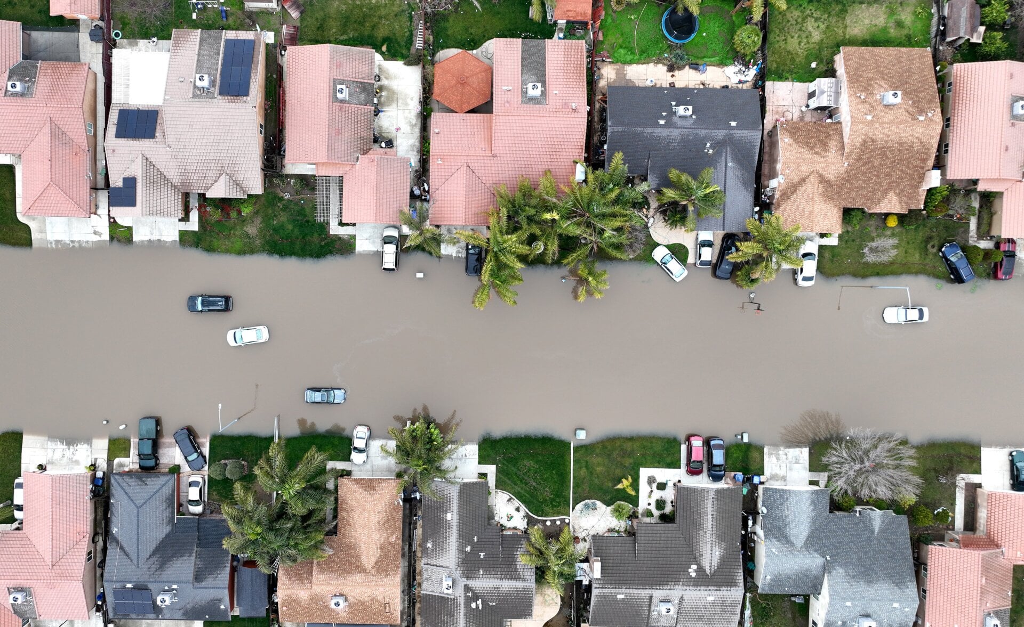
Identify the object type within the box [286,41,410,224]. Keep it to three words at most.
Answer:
house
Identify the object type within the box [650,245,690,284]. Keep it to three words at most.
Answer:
car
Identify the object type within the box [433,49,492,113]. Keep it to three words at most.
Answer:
gazebo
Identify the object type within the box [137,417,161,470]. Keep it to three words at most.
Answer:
truck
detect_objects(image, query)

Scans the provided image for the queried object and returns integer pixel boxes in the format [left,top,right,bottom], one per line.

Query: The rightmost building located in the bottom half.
[918,486,1024,627]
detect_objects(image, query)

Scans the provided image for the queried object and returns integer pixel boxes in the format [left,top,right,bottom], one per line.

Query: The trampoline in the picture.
[662,2,701,44]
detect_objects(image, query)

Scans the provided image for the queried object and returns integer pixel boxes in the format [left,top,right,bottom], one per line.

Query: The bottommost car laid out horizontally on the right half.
[880,305,928,326]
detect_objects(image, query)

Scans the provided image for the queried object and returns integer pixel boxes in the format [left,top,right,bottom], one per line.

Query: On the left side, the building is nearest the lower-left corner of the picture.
[0,469,97,627]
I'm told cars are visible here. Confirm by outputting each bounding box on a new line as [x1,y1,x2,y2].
[991,237,1016,282]
[188,293,235,314]
[380,227,401,272]
[185,472,207,516]
[12,475,23,520]
[1007,449,1024,489]
[707,436,728,481]
[695,231,715,270]
[940,241,977,286]
[227,325,272,346]
[305,386,348,406]
[880,305,928,326]
[350,422,372,465]
[650,245,690,284]
[463,234,483,278]
[174,425,207,471]
[795,239,819,287]
[712,233,738,281]
[685,433,706,475]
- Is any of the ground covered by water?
Yes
